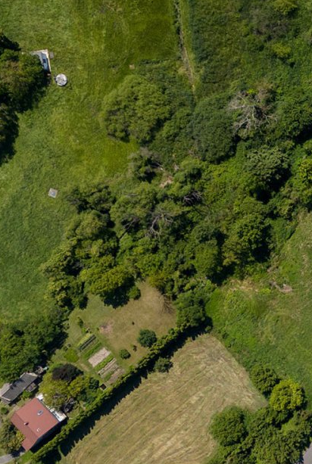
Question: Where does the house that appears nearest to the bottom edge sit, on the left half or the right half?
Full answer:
The house that appears nearest to the bottom edge is on the left side of the image.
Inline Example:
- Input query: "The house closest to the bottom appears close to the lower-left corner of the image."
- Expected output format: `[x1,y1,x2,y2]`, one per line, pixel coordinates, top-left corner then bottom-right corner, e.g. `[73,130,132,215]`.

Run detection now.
[8,393,72,447]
